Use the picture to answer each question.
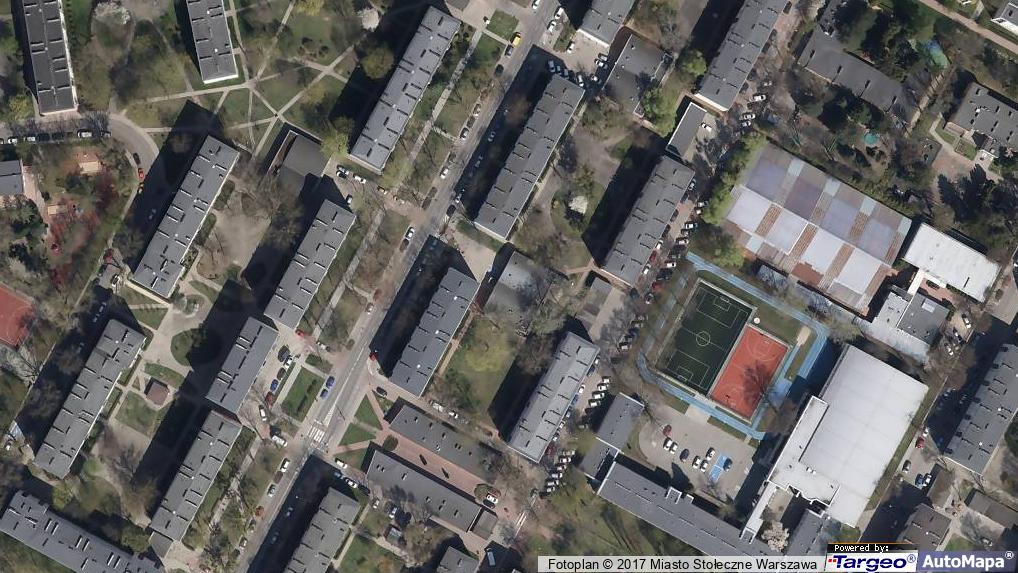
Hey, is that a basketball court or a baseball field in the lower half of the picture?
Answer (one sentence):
The feature located in the lower half of the picture is a basketball court.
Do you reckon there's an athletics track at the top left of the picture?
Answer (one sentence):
No, the scene shows no athletics track at the top left of the picture.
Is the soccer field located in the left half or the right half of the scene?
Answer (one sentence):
You can find the soccer field on the right side of the picture.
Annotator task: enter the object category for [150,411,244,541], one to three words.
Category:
building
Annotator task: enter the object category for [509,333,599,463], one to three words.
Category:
building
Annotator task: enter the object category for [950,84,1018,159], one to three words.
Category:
house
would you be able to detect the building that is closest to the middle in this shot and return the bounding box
[484,251,553,327]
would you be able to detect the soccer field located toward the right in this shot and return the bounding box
[648,279,757,398]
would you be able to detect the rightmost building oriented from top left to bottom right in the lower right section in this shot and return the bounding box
[970,491,1018,534]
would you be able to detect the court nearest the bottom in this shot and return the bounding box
[711,324,791,421]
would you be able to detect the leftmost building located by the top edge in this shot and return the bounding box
[23,0,80,117]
